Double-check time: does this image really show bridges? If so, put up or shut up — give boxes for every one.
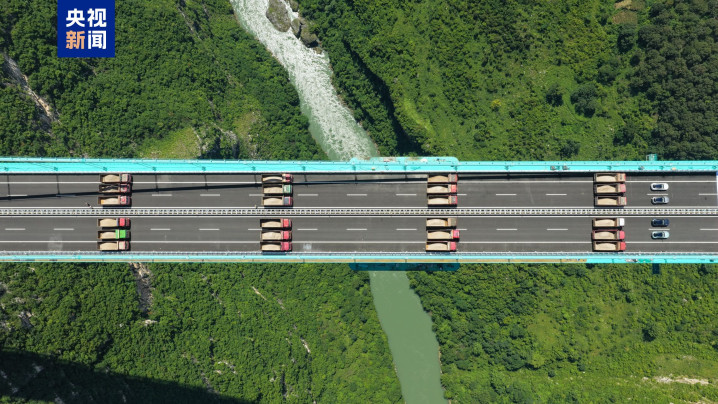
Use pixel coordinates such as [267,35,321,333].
[0,154,718,271]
